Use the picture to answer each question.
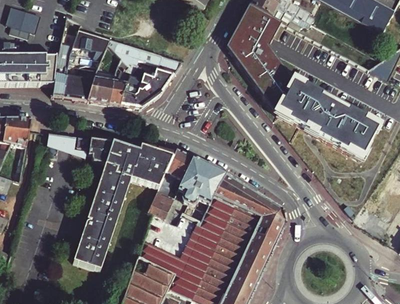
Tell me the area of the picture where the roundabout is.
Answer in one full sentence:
You can find the roundabout in the bottom right area of the picture.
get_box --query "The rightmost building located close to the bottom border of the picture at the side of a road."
[218,212,285,304]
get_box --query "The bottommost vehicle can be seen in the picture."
[358,283,384,304]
